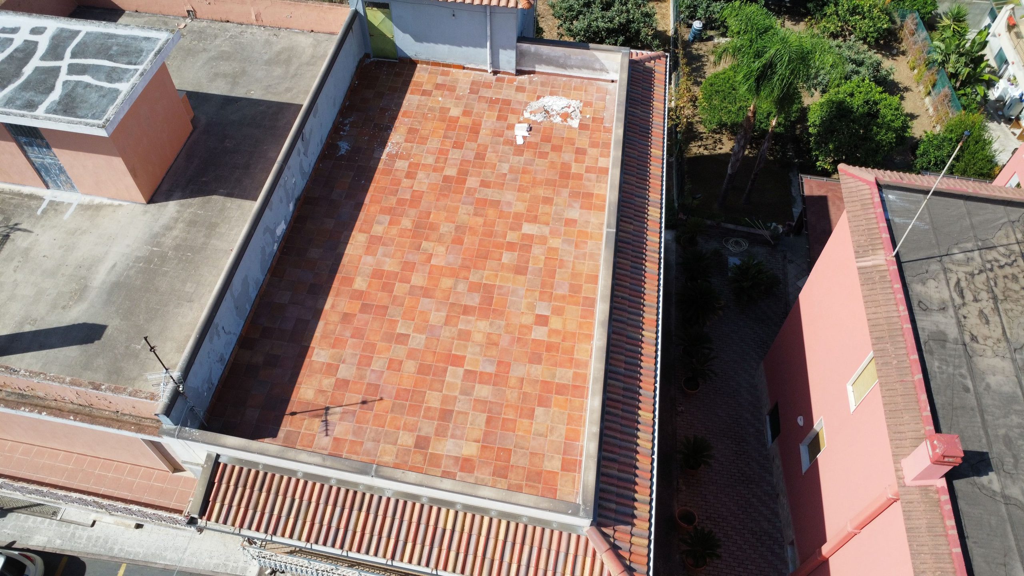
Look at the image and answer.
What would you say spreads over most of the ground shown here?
buildings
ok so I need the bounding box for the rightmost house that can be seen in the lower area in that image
[763,157,1024,576]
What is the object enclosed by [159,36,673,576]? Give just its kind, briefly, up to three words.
house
